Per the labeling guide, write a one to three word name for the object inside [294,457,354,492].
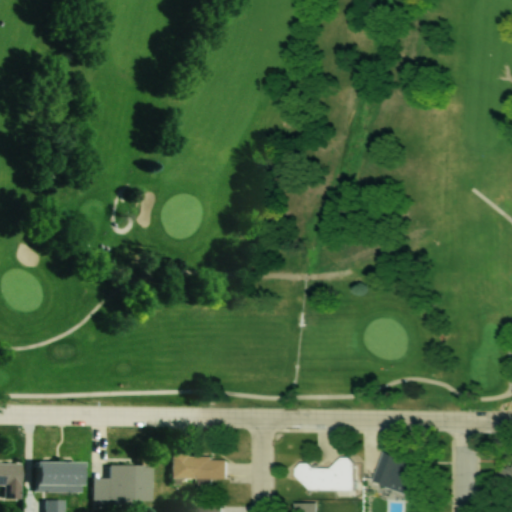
house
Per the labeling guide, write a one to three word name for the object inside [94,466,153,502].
house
